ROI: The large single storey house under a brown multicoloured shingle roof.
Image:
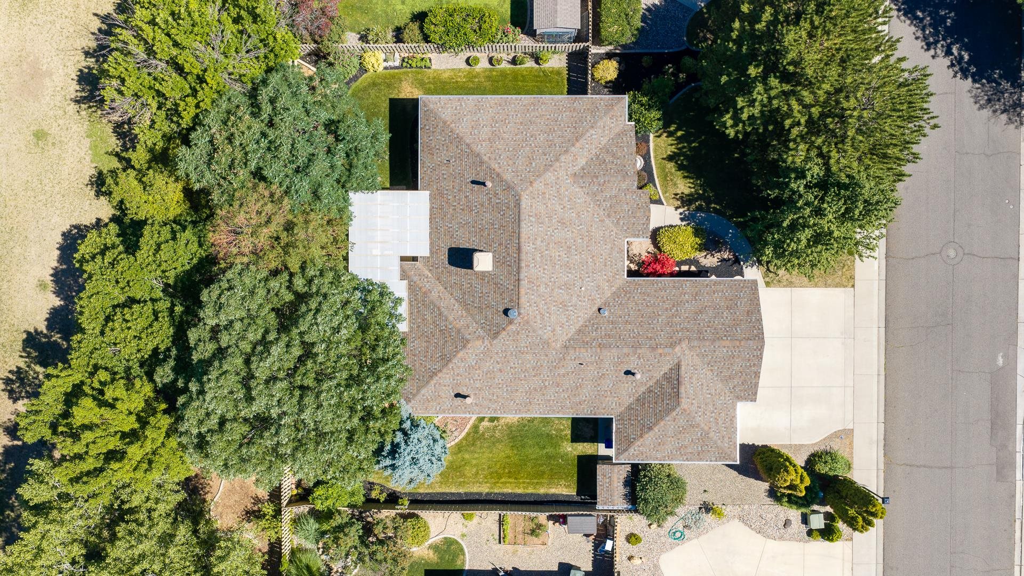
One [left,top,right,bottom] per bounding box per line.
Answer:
[404,94,766,465]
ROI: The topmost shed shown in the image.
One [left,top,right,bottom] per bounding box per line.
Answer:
[533,0,580,38]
